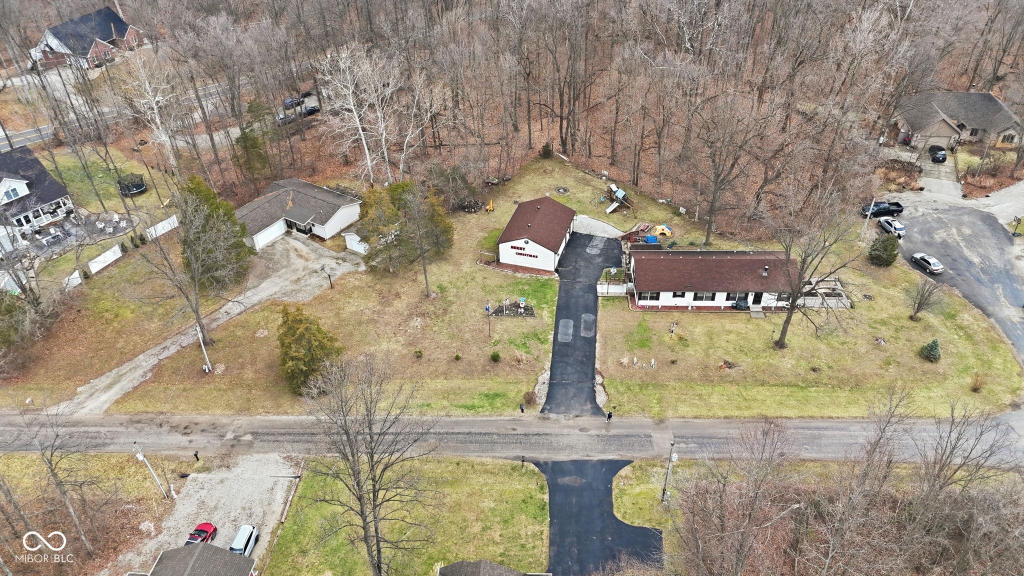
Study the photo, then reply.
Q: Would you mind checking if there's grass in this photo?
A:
Yes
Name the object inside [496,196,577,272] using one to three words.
building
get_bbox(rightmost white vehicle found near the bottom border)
[233,523,271,559]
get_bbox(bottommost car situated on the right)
[909,250,950,275]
